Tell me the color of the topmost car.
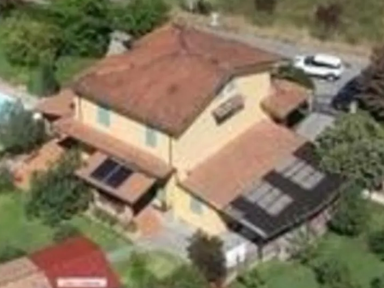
white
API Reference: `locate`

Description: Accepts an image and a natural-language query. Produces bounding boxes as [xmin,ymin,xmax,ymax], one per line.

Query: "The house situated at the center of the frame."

[34,28,310,239]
